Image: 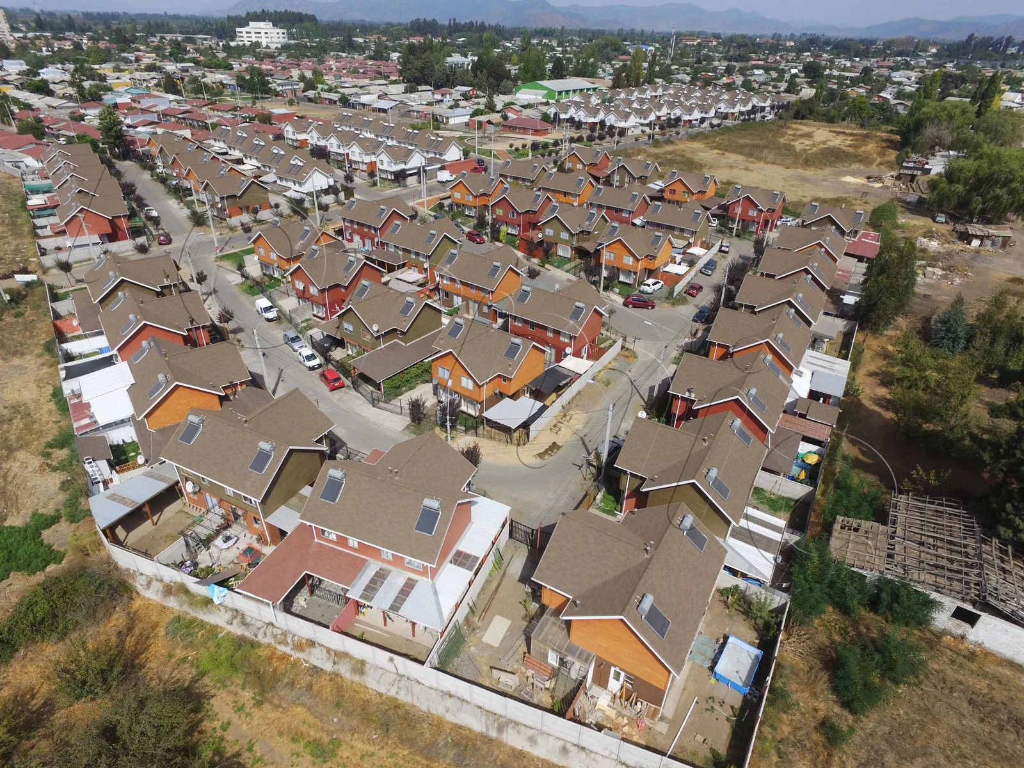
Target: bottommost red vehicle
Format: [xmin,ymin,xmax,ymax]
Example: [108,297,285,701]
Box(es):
[315,361,348,390]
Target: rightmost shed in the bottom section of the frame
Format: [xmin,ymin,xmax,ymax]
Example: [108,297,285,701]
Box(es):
[829,495,1024,668]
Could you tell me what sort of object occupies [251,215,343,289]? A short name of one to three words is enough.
house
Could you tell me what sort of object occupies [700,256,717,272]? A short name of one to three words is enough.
car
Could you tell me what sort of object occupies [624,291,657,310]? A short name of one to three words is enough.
car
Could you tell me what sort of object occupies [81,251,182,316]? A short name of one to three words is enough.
house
